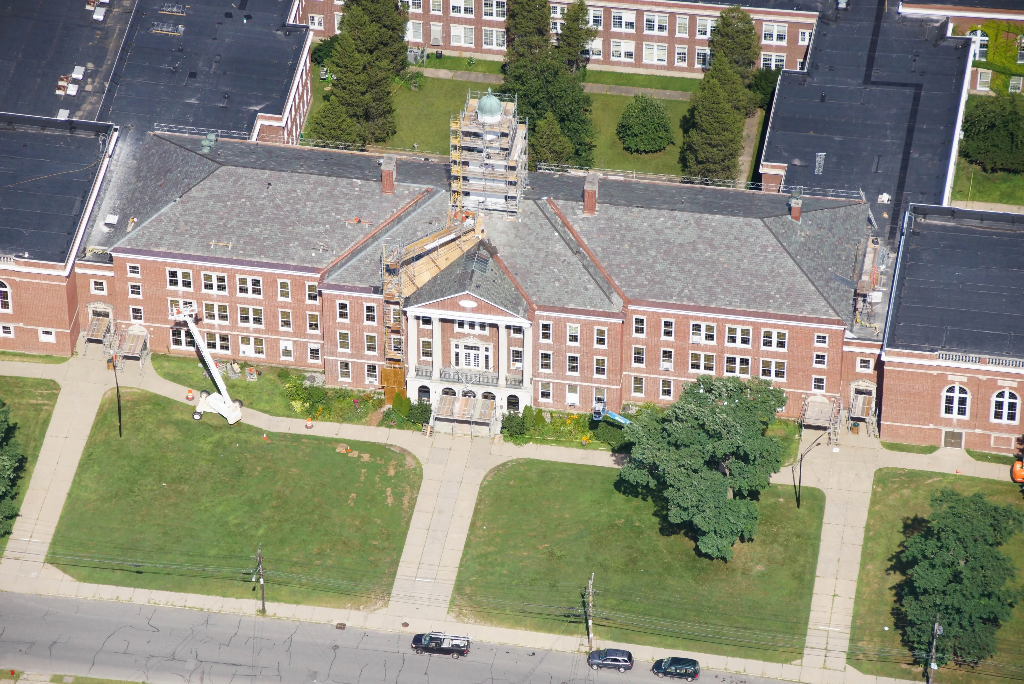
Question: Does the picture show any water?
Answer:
No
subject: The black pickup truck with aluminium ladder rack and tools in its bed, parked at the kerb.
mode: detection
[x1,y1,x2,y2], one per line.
[411,629,474,660]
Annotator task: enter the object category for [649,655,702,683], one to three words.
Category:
vehicle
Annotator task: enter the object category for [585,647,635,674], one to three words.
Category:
car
